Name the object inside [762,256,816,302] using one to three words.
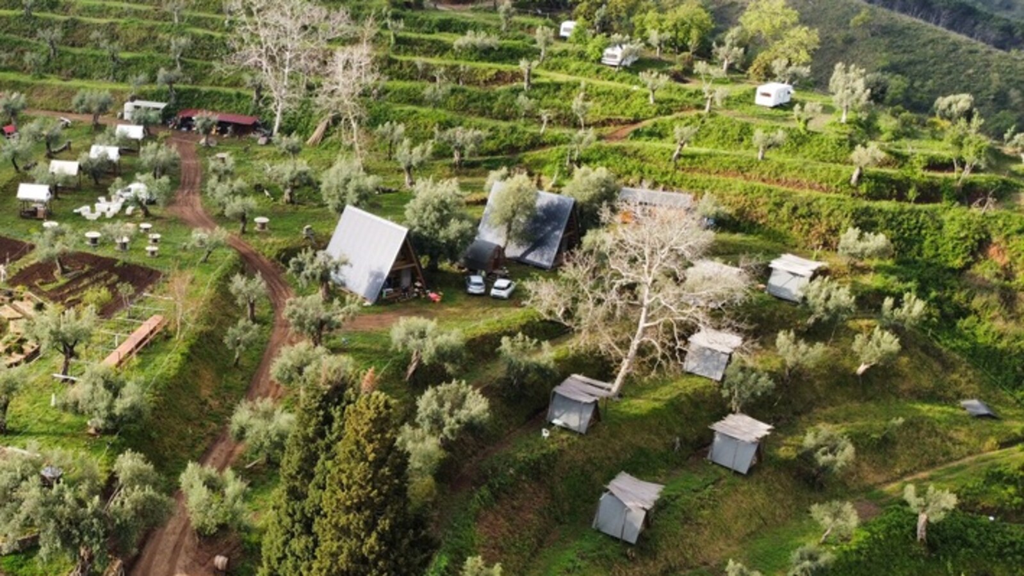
building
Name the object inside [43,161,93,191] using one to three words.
shed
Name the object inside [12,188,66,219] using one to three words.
shed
